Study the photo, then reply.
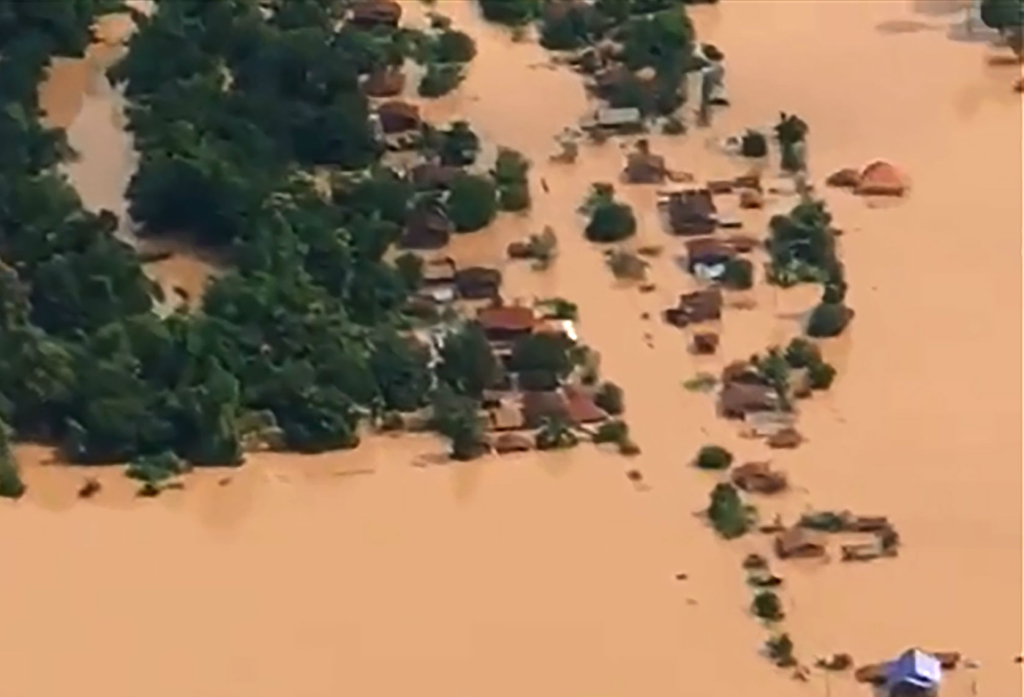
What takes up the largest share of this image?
water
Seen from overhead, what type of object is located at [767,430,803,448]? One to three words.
shed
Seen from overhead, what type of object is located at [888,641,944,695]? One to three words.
house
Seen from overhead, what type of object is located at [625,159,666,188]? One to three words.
house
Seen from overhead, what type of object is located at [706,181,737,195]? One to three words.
shed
